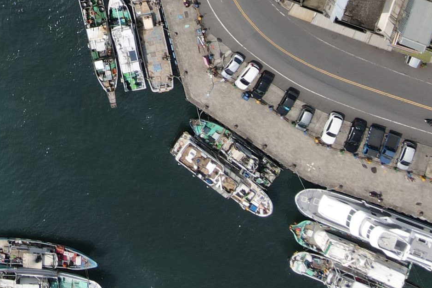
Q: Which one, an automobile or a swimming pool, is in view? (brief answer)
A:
automobile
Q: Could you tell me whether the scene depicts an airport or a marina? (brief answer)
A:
marina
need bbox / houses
[381,0,432,54]
[325,0,387,32]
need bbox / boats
[188,116,279,187]
[288,252,393,288]
[0,268,99,288]
[80,0,117,107]
[290,220,424,282]
[292,183,432,265]
[171,130,273,217]
[0,236,100,272]
[108,0,146,92]
[131,0,172,93]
